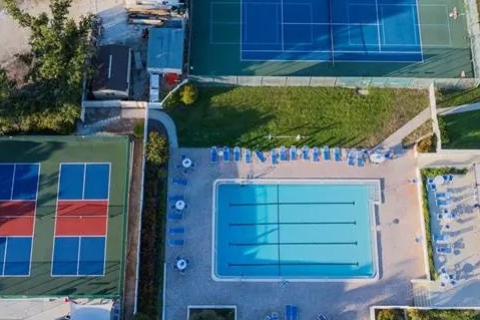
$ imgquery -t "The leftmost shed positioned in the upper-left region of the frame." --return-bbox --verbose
[94,45,132,98]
